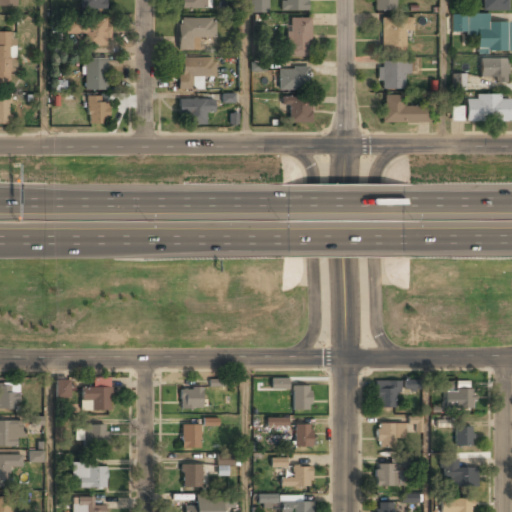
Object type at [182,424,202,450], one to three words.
house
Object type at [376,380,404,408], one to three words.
house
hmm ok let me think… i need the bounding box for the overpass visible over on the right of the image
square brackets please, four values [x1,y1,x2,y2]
[280,183,412,260]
